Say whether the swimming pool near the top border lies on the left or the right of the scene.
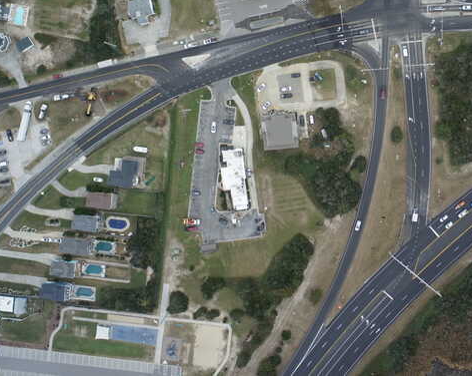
left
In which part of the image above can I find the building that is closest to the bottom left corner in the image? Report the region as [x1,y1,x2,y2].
[0,295,29,315]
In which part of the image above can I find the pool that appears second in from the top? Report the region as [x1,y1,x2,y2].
[106,216,129,232]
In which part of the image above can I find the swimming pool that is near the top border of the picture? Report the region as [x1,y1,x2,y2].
[9,4,28,26]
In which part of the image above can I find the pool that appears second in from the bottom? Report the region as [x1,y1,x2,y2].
[81,262,107,278]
